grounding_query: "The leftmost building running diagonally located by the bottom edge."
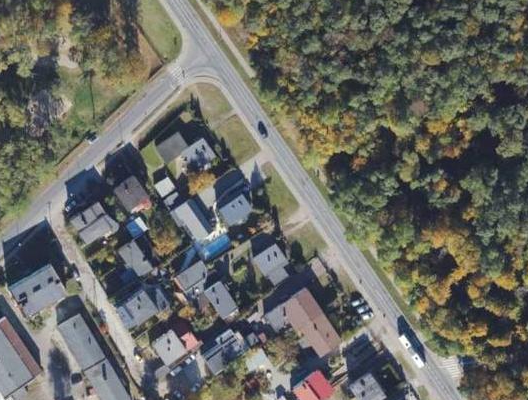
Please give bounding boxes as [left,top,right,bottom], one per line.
[59,314,130,400]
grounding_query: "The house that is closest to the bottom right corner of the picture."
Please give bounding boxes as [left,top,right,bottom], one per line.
[348,374,387,400]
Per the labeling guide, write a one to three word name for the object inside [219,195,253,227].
house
